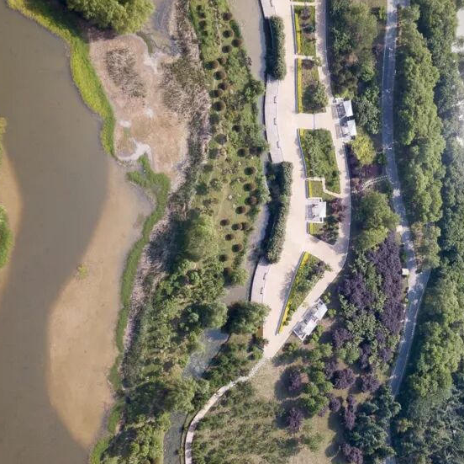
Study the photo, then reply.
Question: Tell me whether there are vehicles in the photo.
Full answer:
No, no vehicle can be seen from above.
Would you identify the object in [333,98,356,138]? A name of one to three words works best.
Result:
building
